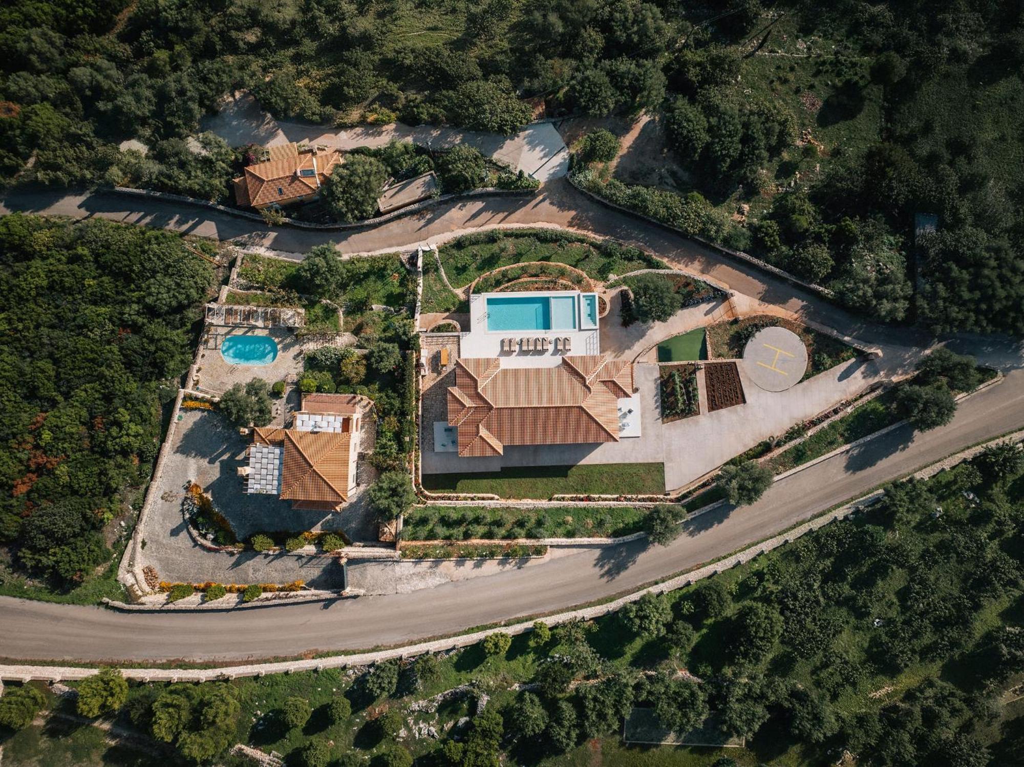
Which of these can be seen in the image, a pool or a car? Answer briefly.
pool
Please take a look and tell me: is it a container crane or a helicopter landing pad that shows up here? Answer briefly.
helicopter landing pad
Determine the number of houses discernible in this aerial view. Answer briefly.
three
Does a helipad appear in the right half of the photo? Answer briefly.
Yes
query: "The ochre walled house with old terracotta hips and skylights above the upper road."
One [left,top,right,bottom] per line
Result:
[232,142,346,211]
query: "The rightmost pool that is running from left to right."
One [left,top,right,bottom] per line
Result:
[483,290,581,333]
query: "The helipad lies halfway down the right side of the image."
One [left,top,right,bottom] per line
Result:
[742,327,807,391]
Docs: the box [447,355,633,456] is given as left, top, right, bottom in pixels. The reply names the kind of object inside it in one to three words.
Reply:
house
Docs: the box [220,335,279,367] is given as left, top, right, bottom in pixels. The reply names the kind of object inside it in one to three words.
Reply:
swimming pool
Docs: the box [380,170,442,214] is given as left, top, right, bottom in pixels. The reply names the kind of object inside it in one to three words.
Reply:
building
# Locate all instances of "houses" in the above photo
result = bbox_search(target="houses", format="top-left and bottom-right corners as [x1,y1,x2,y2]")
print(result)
[232,142,346,211]
[447,355,633,456]
[235,392,379,512]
